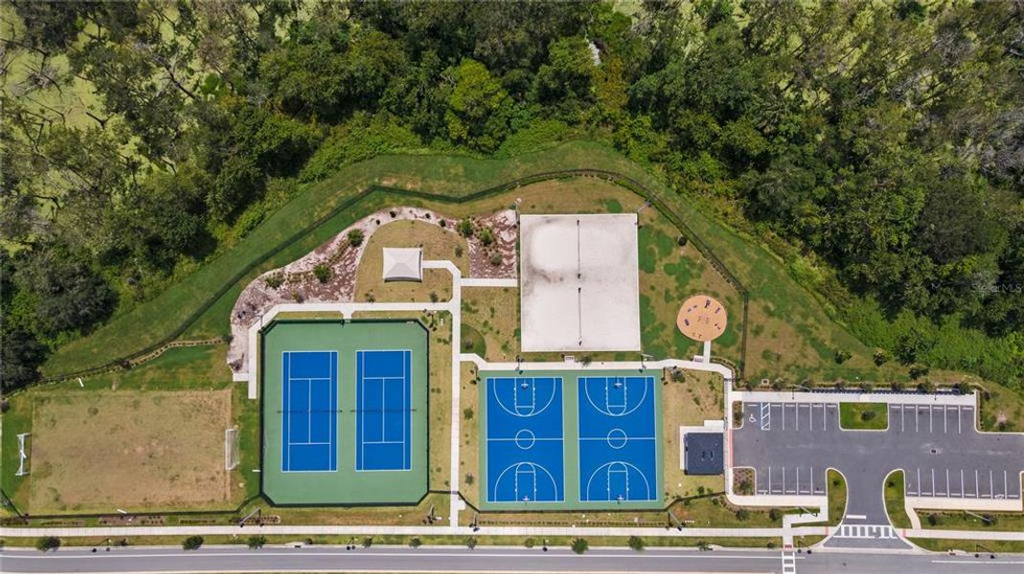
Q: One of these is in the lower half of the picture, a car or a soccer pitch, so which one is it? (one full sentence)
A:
The feature located in the lower half of the picture is a soccer pitch.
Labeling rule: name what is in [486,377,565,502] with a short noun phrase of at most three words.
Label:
basketball court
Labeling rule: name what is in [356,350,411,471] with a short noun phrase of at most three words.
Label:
tennis court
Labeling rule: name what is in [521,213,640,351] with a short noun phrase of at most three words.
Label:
sports court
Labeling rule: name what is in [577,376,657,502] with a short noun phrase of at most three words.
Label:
basketball court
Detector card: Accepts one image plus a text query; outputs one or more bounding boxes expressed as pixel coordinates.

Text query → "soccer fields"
[30,388,231,512]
